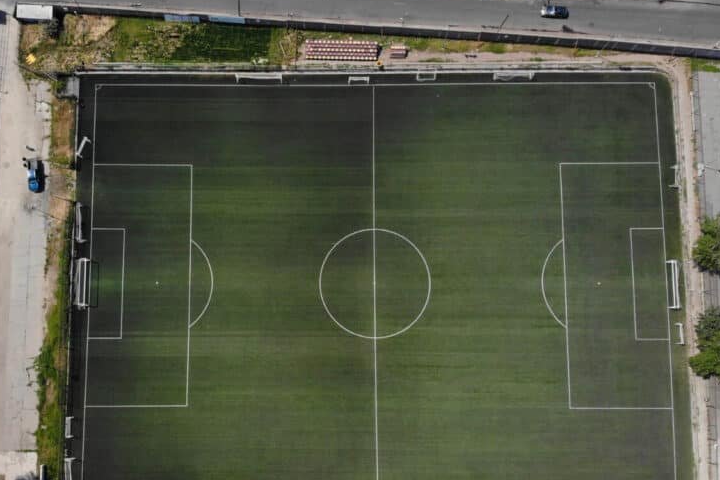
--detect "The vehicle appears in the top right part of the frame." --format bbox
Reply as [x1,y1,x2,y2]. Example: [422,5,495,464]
[541,4,569,18]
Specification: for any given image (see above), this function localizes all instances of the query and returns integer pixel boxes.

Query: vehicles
[541,4,569,18]
[26,158,41,190]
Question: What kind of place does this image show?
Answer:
sports ground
